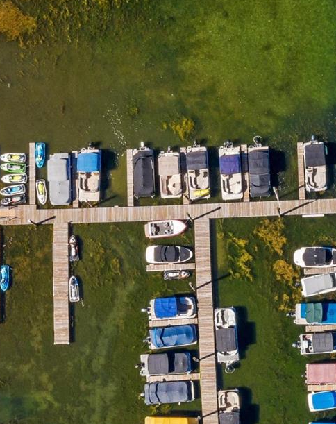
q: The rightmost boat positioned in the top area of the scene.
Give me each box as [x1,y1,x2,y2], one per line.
[302,134,328,194]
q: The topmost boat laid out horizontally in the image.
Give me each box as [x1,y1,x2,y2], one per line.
[145,220,193,239]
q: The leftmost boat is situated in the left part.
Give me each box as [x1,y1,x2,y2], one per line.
[47,146,74,209]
